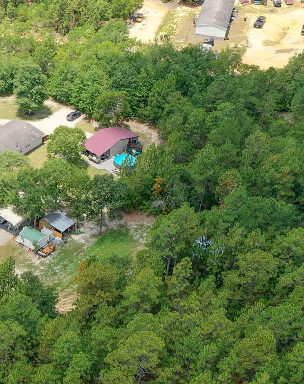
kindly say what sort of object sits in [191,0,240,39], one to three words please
house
